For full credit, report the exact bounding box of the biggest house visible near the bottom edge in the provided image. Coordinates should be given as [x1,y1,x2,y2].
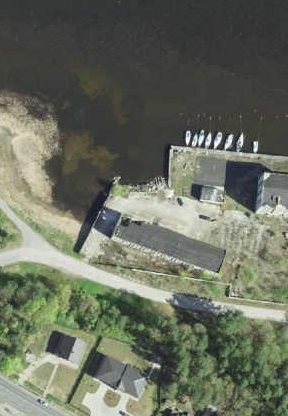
[86,351,146,398]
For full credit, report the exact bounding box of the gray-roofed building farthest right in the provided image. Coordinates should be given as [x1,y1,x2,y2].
[252,171,288,219]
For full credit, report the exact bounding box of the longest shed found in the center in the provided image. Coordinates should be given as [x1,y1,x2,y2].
[111,220,226,276]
